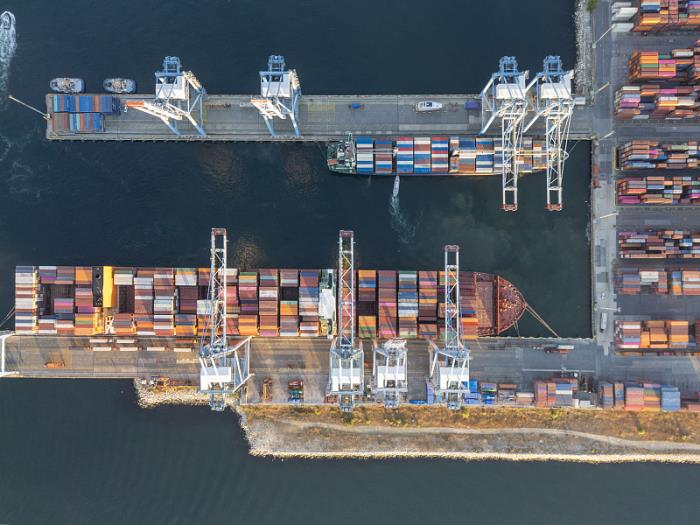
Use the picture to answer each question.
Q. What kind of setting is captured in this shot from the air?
port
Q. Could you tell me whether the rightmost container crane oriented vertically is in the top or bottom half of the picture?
top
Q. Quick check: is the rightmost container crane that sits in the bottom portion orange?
No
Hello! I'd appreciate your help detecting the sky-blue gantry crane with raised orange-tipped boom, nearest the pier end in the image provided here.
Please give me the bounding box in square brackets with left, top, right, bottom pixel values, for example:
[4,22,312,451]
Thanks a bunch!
[124,55,209,137]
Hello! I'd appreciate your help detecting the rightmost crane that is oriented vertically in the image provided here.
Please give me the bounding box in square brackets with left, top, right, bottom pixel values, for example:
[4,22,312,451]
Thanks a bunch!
[515,55,576,214]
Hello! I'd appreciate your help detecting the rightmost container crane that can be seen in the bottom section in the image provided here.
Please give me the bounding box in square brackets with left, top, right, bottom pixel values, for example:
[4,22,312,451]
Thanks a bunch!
[417,245,469,414]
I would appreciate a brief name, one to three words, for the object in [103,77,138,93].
boat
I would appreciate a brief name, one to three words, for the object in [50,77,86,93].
boat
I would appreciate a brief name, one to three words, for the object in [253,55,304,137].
container crane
